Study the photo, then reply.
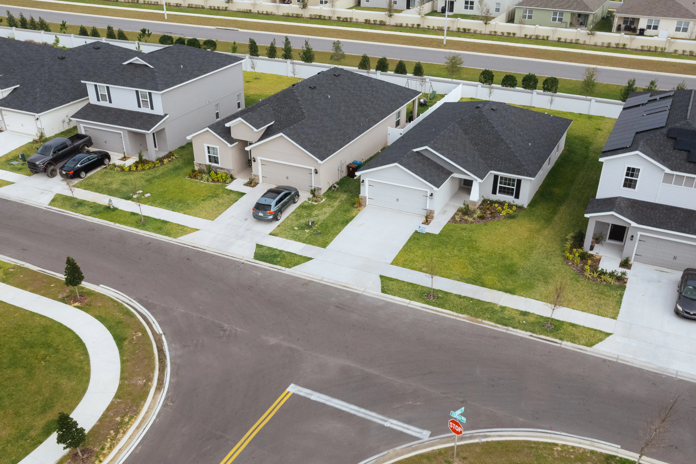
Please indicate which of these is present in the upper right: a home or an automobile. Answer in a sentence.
The feature located in the upper right is a home.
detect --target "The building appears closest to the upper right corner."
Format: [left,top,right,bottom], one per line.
[614,0,696,38]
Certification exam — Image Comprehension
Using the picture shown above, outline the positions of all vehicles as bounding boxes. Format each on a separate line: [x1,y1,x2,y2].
[676,263,696,315]
[25,136,91,176]
[252,186,300,221]
[57,150,111,179]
